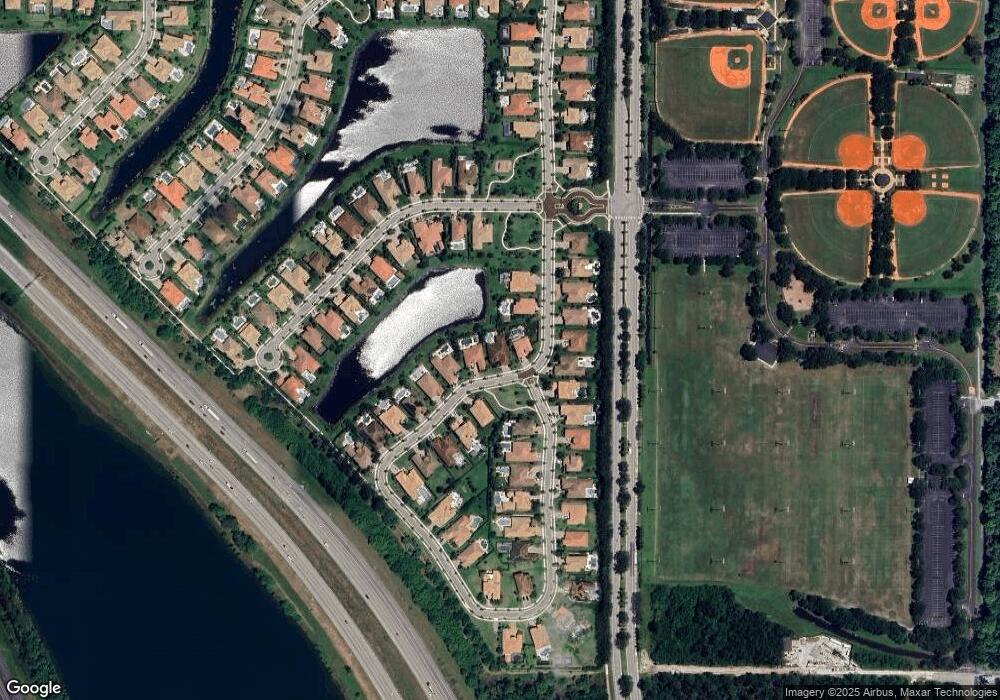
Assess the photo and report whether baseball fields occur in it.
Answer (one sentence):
Yes, there's a baseball field here.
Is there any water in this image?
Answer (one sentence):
Yes, some water is visible.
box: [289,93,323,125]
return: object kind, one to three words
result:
house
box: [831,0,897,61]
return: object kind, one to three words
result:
baseball field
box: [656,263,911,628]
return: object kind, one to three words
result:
sports field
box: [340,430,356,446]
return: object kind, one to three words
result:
swimming pool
